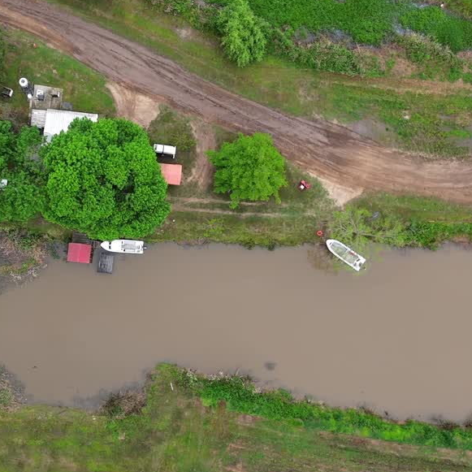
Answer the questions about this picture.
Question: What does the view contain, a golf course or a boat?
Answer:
boat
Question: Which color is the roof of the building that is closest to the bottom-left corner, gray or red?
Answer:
red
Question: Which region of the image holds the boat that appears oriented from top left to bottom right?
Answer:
right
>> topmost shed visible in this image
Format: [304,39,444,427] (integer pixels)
[32,84,65,112]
